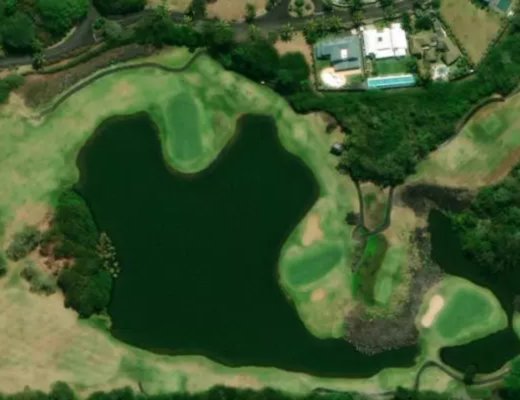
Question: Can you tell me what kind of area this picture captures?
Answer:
golf course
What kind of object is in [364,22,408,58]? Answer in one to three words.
house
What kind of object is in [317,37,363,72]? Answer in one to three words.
house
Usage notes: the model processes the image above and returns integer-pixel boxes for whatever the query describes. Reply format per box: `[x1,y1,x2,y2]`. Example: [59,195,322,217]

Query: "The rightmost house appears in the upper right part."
[411,31,463,64]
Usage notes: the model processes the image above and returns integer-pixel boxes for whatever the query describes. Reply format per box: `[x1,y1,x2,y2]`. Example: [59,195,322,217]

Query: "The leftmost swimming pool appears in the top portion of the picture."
[368,74,416,90]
